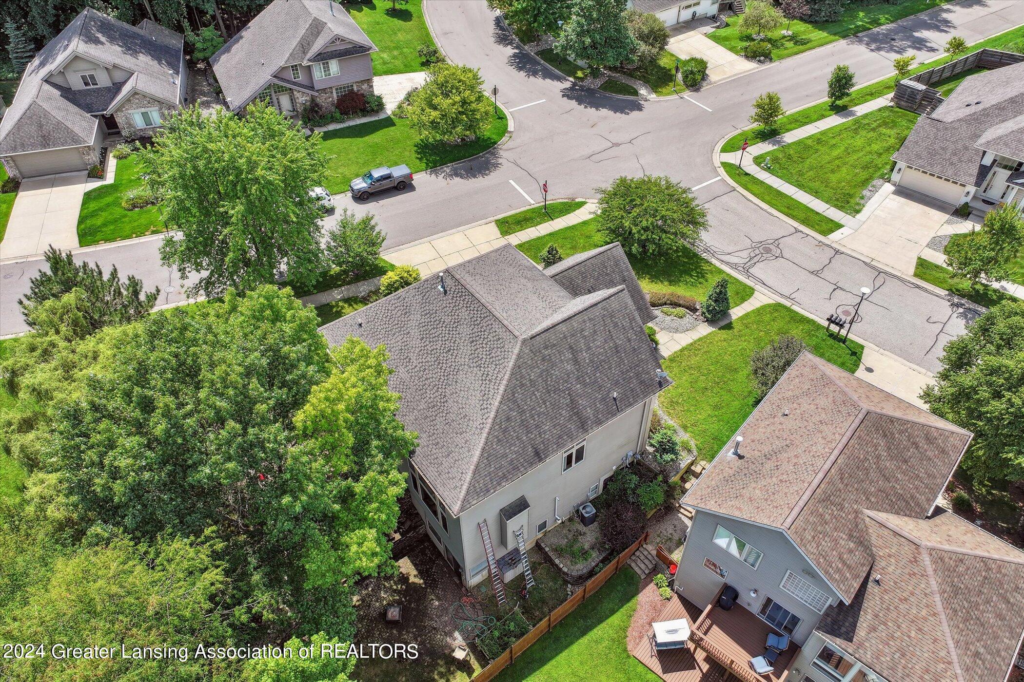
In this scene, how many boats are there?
0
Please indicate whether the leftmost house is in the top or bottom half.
top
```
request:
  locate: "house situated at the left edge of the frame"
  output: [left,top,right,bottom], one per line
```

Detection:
[0,7,193,180]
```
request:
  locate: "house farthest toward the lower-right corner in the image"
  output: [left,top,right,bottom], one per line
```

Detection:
[671,350,1024,682]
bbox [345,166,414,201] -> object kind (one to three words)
truck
